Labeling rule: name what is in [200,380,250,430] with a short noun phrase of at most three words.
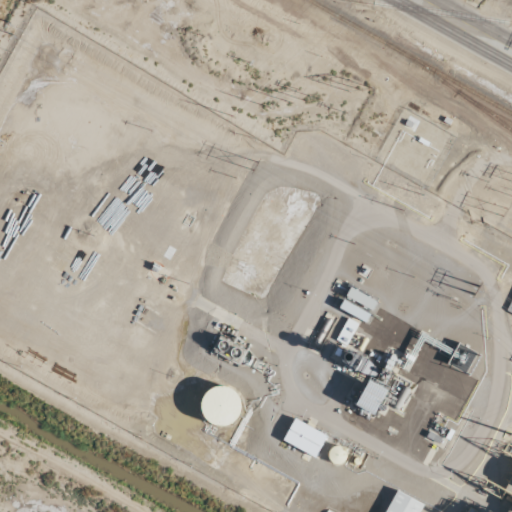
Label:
storage tank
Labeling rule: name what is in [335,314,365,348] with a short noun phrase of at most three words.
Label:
building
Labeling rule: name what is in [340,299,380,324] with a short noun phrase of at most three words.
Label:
building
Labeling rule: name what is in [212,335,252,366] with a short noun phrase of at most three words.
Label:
cooling tower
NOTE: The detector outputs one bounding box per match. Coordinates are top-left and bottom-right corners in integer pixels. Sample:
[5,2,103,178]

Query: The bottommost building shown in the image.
[386,484,428,512]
